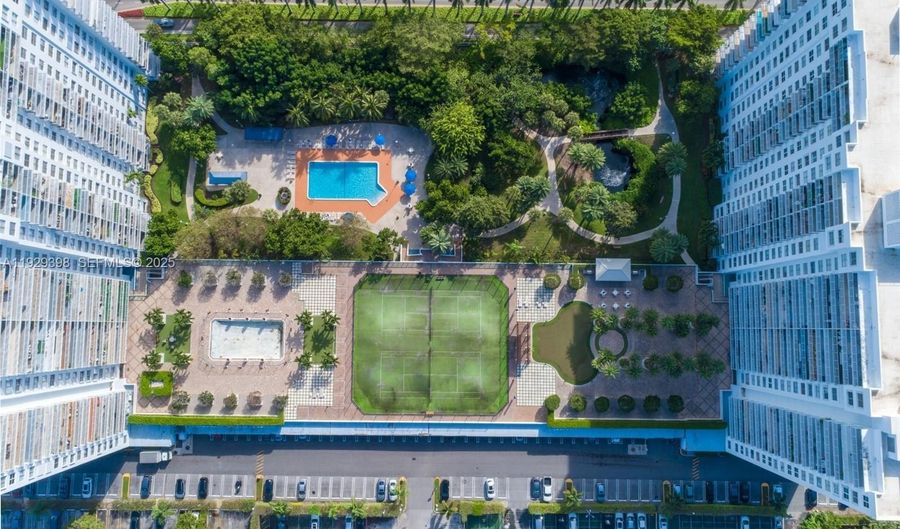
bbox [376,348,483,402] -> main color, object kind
green tennis court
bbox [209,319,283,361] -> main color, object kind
white swimming pool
